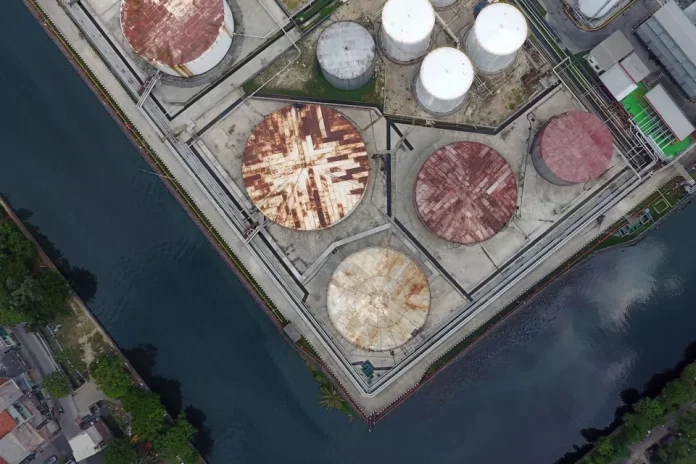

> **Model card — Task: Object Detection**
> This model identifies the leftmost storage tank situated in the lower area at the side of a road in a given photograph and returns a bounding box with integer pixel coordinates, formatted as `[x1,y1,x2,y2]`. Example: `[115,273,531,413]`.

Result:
[328,245,431,351]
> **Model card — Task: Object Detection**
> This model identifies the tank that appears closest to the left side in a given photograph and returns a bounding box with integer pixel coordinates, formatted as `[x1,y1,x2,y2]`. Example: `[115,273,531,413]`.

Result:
[120,0,243,85]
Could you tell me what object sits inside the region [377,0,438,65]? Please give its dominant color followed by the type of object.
white storage tank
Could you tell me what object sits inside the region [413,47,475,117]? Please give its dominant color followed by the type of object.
white storage tank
